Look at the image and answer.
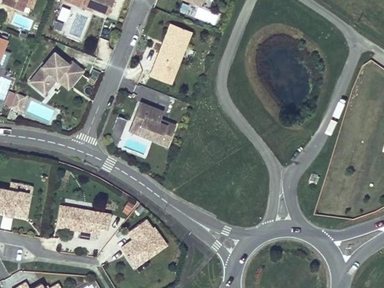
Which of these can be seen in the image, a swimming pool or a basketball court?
swimming pool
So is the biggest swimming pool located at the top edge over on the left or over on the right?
left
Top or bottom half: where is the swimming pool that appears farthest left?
top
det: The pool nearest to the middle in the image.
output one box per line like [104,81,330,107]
[118,132,152,158]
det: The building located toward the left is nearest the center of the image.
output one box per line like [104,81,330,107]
[130,102,176,150]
